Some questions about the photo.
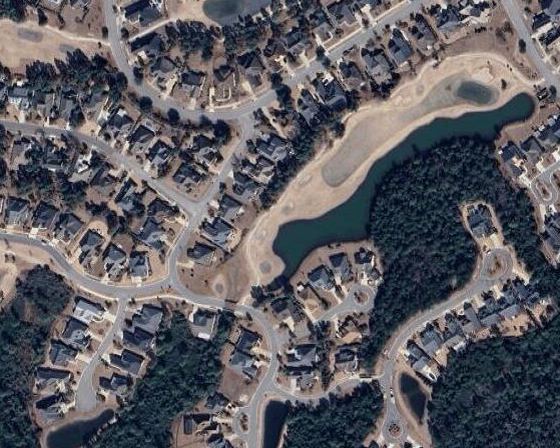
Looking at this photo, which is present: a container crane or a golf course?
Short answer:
golf course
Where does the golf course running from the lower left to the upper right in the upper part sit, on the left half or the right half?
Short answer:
right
